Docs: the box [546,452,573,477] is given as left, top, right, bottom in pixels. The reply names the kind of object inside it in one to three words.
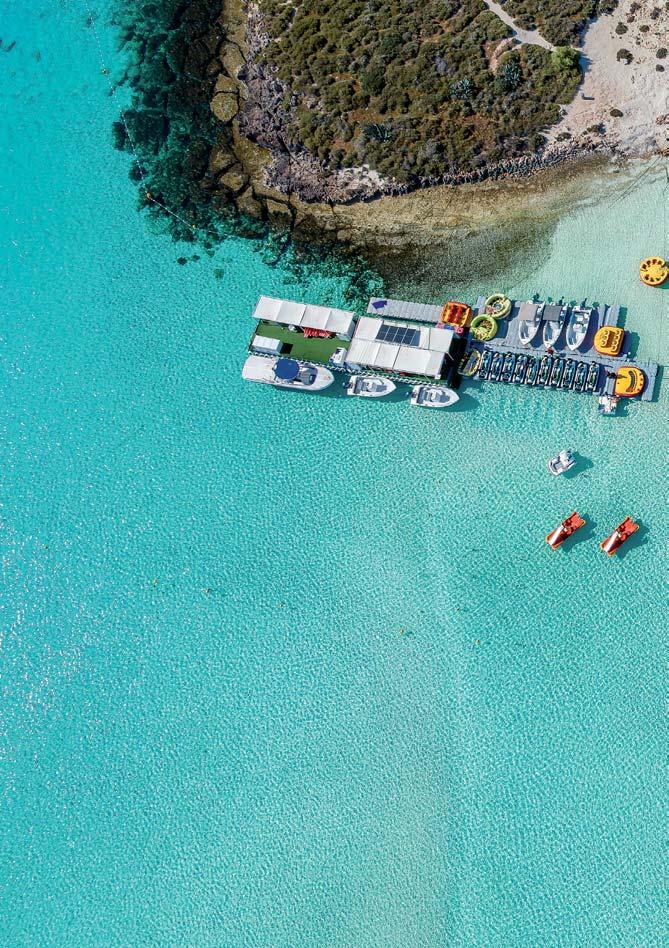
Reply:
boat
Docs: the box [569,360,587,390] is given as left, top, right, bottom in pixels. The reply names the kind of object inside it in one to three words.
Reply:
boat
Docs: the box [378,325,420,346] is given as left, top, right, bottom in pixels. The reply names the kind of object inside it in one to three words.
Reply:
solar array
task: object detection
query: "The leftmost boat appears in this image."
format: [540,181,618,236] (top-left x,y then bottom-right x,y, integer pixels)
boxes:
[241,354,334,388]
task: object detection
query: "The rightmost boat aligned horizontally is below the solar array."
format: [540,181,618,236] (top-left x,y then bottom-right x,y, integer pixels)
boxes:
[407,383,460,407]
